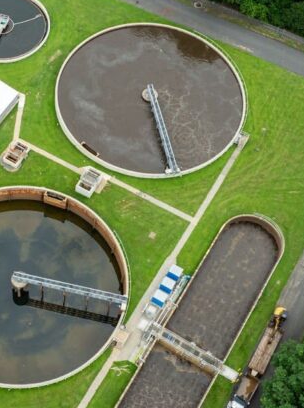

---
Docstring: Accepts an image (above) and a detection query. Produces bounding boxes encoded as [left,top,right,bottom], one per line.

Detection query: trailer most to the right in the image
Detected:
[250,308,293,371]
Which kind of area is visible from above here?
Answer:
industrial area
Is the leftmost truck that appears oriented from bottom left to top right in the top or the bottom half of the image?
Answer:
bottom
